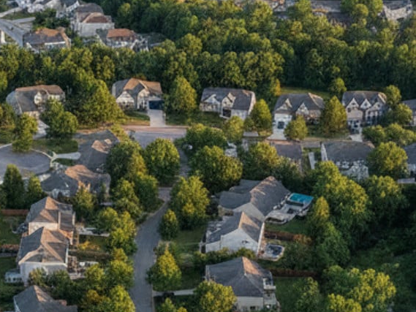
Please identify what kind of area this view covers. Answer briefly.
residential area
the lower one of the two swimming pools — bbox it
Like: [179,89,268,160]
[262,243,285,258]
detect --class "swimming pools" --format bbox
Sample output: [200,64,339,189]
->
[262,243,285,258]
[286,194,314,209]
